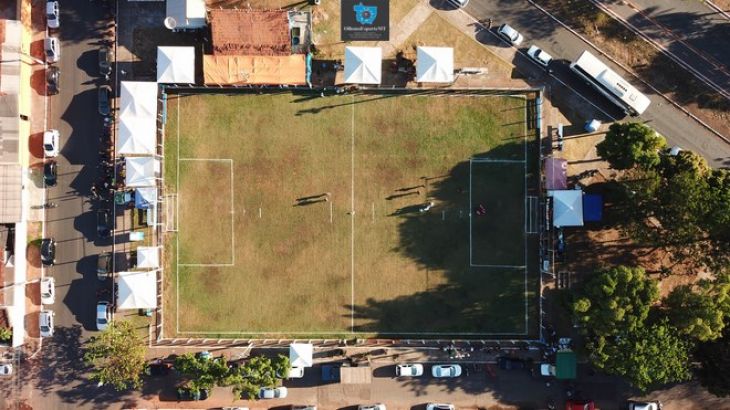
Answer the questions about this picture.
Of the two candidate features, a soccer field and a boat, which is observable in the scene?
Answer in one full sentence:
Of the two, only a soccer field appears.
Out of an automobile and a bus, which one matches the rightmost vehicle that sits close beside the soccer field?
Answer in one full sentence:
The rightmost vehicle that sits close beside the soccer field is a bus.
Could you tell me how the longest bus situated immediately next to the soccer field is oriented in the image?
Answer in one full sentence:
In this picture, the longest bus situated immediately next to the soccer field is oriented at an angle.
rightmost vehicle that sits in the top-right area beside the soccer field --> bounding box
[570,51,657,119]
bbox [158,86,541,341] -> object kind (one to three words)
soccer field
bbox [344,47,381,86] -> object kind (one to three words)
tent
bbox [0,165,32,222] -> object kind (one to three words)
house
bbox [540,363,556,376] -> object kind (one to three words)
vehicle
